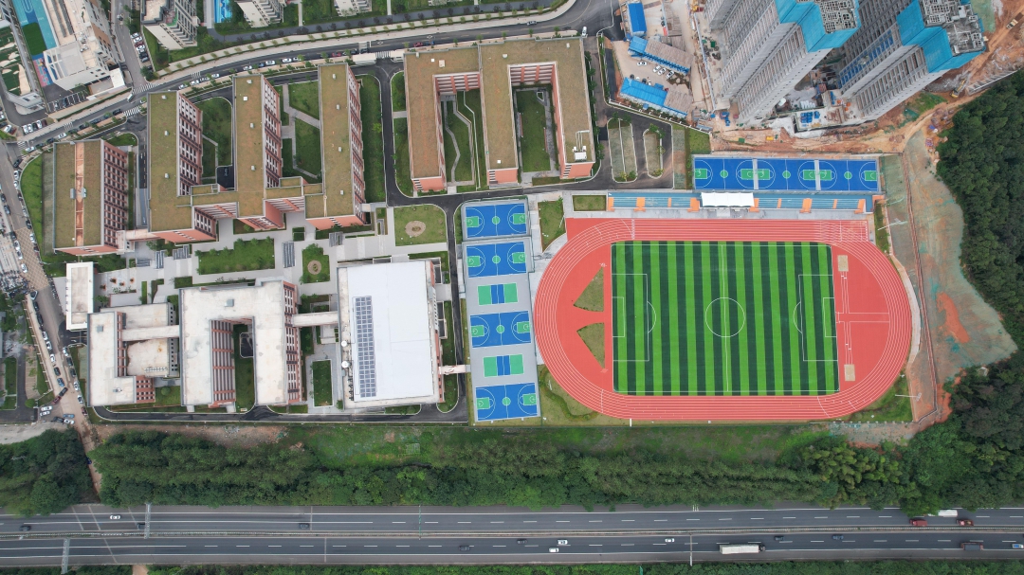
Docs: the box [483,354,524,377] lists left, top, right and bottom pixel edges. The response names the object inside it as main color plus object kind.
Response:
green sports court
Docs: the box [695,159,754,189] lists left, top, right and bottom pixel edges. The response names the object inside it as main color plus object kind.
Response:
blue basketball court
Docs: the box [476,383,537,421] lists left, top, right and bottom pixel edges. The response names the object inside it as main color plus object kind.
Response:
blue basketball court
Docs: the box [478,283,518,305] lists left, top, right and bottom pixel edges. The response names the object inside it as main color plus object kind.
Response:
green sports court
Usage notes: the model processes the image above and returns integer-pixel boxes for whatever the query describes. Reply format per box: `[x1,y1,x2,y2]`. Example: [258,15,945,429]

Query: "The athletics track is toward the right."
[535,219,910,418]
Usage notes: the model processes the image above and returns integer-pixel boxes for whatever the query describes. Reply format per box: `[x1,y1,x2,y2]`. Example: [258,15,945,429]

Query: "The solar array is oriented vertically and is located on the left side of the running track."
[355,296,376,398]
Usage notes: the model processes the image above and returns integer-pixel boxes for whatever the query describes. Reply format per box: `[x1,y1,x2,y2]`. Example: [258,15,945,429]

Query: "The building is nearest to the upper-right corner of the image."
[830,0,990,111]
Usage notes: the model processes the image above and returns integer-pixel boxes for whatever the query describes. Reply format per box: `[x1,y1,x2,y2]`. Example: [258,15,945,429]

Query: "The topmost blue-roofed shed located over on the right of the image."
[627,1,646,37]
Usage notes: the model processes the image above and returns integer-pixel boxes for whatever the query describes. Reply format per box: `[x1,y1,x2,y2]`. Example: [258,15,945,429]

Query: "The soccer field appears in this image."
[610,240,839,396]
